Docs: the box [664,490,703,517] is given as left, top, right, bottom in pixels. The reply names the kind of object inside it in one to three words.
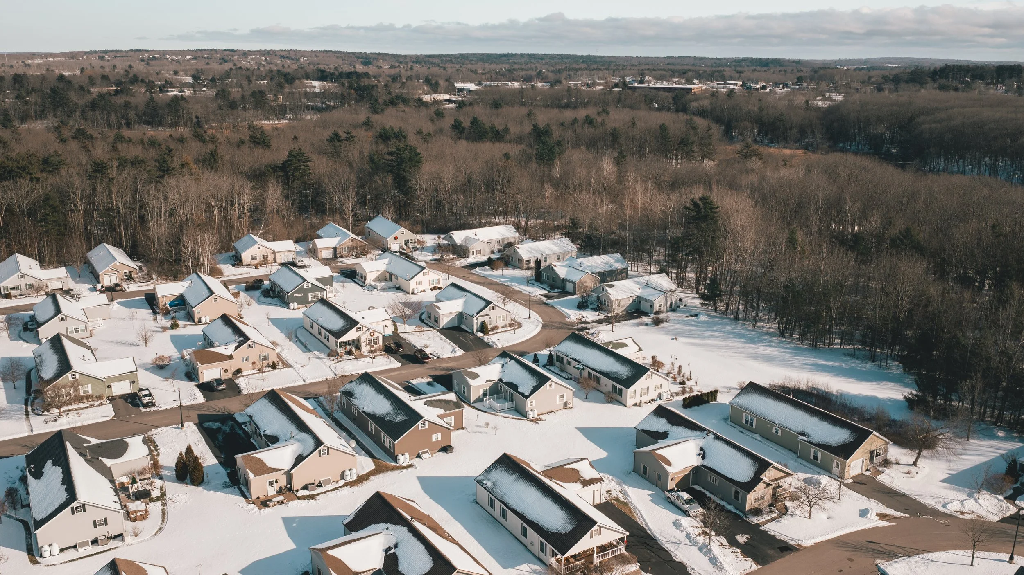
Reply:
truck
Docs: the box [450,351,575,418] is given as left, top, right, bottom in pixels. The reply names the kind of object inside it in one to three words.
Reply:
house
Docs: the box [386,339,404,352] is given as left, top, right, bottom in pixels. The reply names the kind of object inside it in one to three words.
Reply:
vehicle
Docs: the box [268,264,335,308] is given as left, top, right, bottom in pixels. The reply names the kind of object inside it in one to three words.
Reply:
house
